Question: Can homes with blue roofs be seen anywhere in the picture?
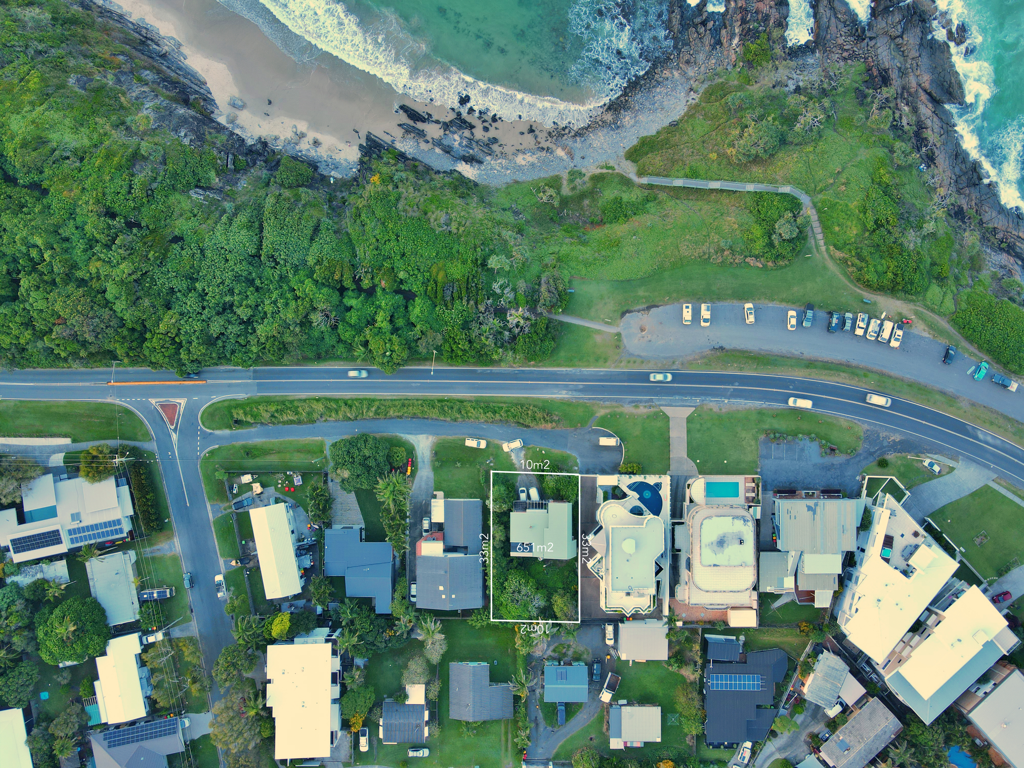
Yes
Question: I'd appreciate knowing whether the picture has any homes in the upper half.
No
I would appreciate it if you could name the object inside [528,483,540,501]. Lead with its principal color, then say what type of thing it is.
white vehicle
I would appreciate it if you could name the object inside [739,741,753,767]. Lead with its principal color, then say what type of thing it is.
white vehicle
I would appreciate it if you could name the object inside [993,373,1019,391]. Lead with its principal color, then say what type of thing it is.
blue vehicle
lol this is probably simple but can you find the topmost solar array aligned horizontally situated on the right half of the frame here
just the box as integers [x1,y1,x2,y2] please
[710,674,760,690]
